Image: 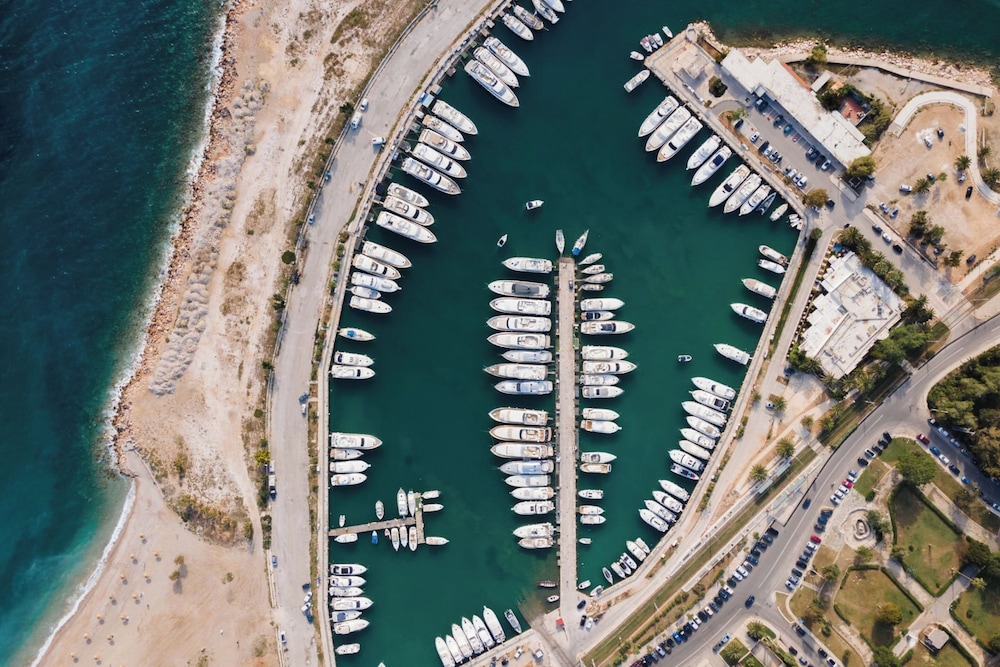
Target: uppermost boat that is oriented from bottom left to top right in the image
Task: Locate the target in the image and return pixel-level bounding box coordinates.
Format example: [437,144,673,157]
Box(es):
[623,69,650,93]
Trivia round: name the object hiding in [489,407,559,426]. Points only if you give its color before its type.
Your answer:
white boat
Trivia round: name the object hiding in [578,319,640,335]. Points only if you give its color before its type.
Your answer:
white boat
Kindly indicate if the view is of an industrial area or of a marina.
marina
